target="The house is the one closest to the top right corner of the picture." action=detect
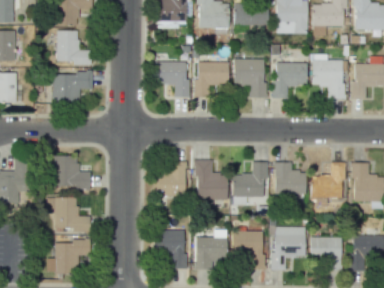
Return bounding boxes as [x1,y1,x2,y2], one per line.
[350,0,384,31]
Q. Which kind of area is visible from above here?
residential area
